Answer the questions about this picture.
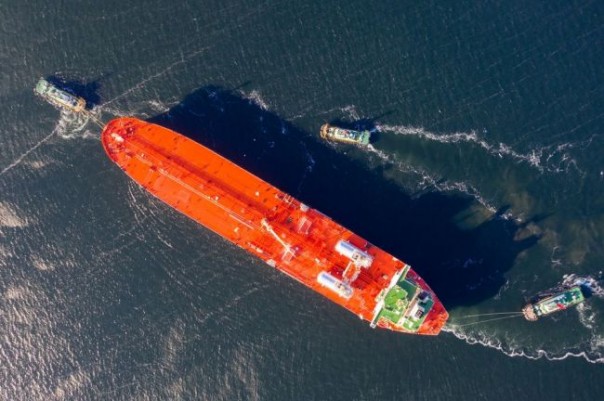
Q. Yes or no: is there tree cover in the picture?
No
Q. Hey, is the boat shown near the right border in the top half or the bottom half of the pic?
bottom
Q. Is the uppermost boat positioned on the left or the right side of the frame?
left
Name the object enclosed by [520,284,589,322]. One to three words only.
boat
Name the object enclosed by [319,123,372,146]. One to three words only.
boat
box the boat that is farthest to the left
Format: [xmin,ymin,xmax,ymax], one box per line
[34,78,88,113]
